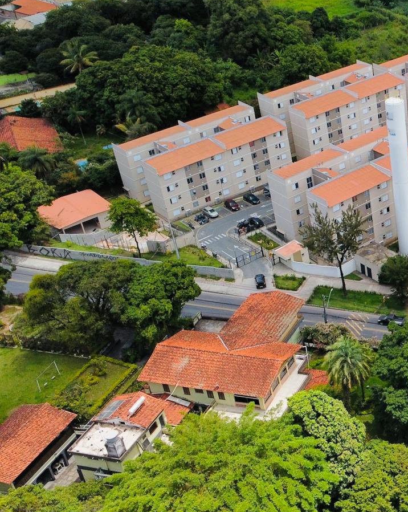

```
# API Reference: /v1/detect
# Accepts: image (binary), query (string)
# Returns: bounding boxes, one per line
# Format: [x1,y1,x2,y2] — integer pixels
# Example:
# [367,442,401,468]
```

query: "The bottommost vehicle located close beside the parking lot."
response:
[254,274,267,289]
